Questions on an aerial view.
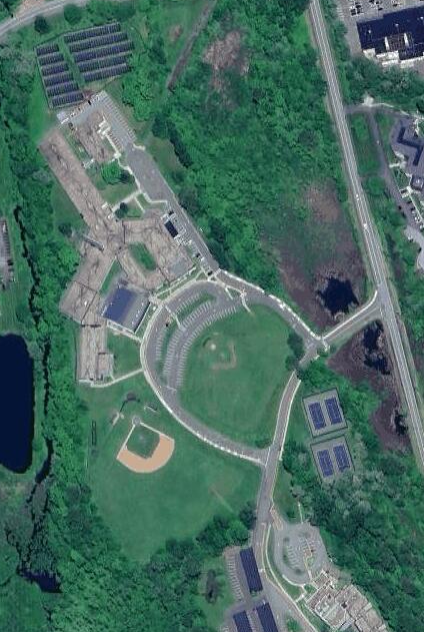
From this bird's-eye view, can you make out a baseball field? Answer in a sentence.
Yes, a baseball field is visible in the scene.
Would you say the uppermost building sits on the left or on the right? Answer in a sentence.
The uppermost building is on the right side of the image.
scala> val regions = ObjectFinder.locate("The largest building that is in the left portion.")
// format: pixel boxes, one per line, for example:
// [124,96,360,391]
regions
[38,109,195,384]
